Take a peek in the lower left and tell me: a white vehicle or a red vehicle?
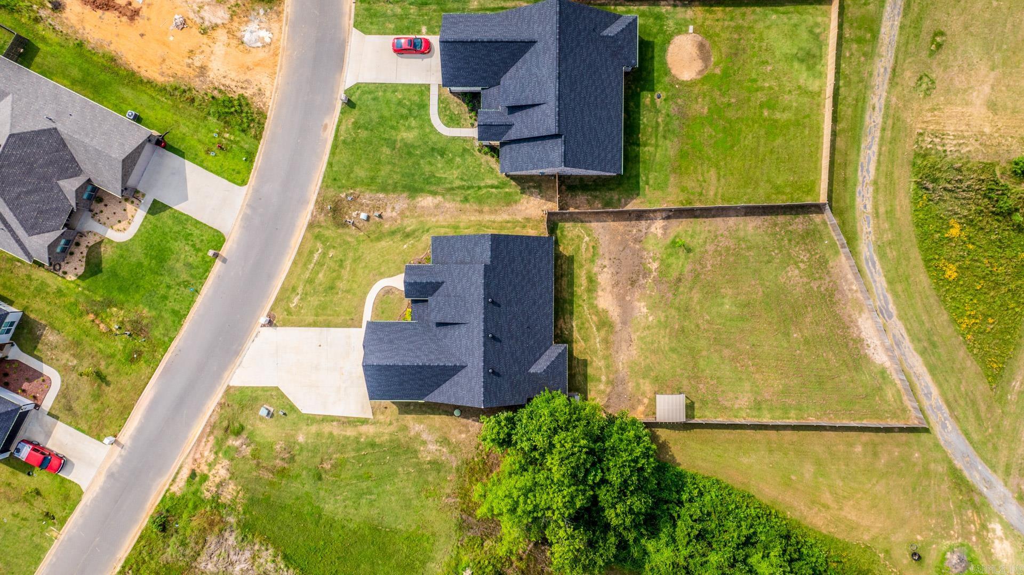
red vehicle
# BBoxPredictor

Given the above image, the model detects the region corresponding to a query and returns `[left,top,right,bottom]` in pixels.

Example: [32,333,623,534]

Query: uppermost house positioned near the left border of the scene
[0,58,160,266]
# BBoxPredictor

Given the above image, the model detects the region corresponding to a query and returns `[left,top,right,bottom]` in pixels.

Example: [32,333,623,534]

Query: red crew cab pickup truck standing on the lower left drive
[11,439,65,475]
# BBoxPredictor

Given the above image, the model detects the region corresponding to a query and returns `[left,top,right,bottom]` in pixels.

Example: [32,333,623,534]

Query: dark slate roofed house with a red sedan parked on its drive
[440,0,639,176]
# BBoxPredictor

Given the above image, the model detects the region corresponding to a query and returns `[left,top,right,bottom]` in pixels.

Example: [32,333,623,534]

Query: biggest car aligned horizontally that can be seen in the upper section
[391,36,430,55]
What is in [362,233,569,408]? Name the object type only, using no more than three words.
house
